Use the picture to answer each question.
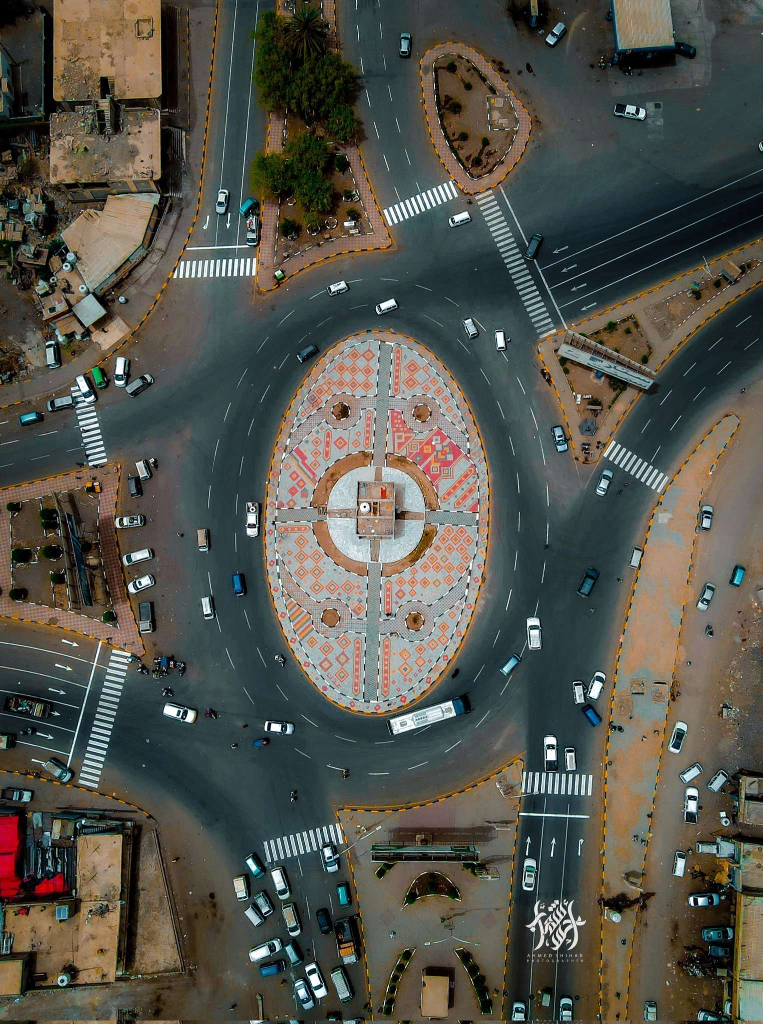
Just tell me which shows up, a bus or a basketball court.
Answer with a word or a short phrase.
bus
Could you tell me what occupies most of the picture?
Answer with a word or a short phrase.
paved ground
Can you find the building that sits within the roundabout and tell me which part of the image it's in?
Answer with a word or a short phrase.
center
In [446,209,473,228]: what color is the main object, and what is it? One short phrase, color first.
white vehicle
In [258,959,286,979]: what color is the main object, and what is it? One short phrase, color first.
blue vehicle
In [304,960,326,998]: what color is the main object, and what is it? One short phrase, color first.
white car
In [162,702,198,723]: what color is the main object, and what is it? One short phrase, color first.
white car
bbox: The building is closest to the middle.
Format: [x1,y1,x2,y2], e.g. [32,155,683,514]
[357,481,395,543]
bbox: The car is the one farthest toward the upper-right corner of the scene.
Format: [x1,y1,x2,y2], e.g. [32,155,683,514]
[668,38,696,58]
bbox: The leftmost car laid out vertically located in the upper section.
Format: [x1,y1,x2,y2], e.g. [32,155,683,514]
[44,341,60,369]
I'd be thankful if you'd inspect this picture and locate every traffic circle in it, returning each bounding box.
[263,329,491,716]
